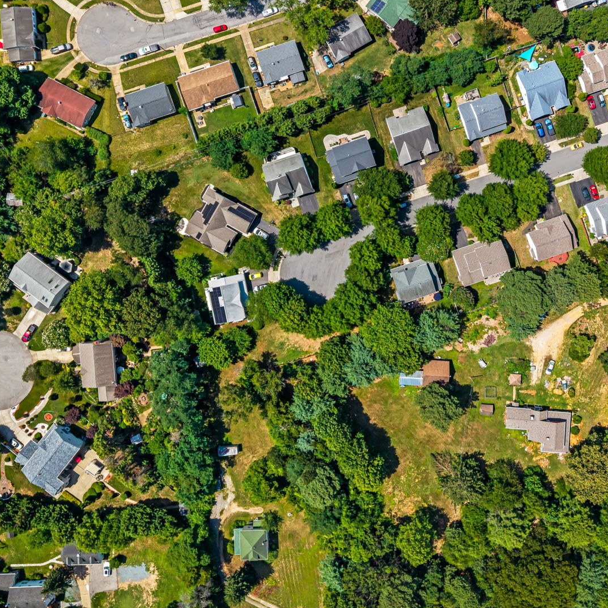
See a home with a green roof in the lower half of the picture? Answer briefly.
Yes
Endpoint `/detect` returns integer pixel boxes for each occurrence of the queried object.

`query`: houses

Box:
[452,240,508,282]
[516,61,571,121]
[457,92,509,142]
[0,6,38,62]
[390,259,440,301]
[256,39,306,86]
[124,82,175,125]
[326,136,376,186]
[556,0,596,11]
[326,12,377,64]
[579,49,608,91]
[584,197,608,237]
[525,215,579,263]
[184,184,257,255]
[263,152,312,205]
[504,406,572,455]
[15,422,88,497]
[367,0,416,29]
[386,106,438,165]
[72,338,120,402]
[177,61,239,111]
[35,77,97,127]
[0,570,52,608]
[232,522,271,562]
[208,274,247,324]
[9,252,71,311]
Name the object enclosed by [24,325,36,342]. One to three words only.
vehicle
